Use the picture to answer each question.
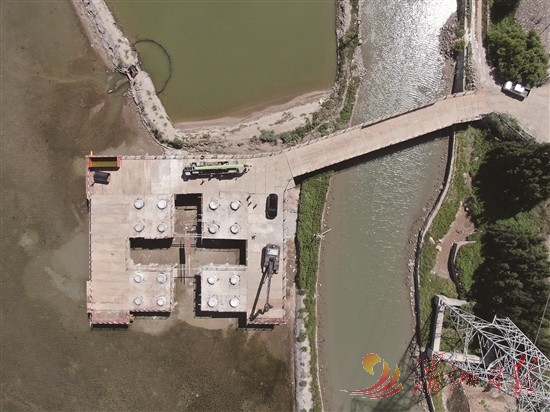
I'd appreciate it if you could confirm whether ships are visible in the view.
No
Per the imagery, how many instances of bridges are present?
1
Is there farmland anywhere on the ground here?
No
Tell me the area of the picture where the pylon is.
bottom right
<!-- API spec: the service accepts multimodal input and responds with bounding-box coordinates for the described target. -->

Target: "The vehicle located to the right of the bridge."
[504,82,535,100]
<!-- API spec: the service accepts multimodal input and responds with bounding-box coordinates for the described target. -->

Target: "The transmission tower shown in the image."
[425,298,550,412]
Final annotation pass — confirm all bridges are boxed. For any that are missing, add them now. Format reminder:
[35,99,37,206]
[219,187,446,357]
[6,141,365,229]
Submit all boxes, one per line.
[284,90,488,178]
